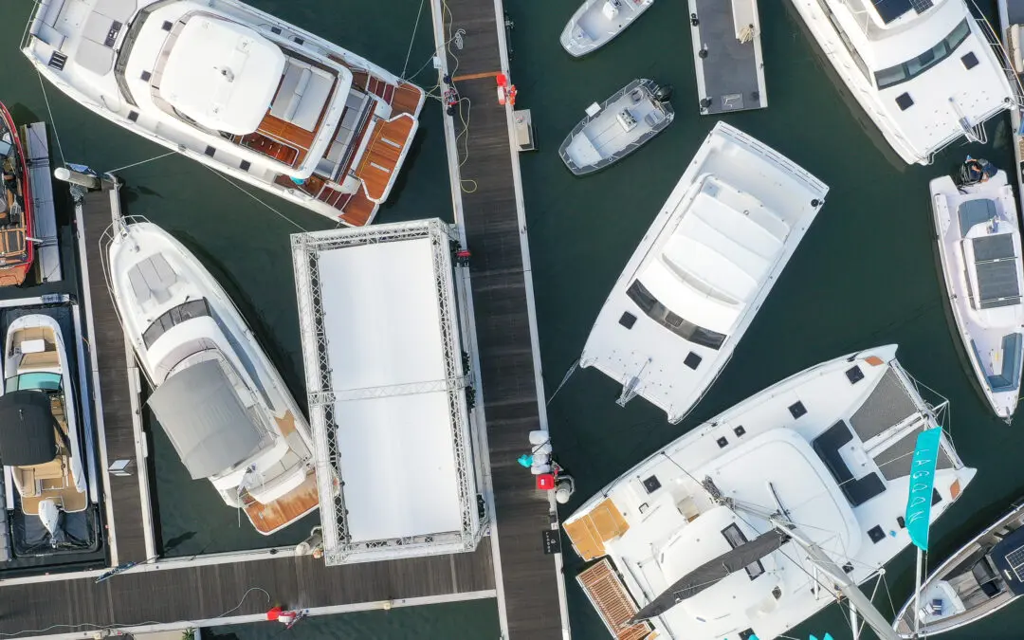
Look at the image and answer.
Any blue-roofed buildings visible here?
No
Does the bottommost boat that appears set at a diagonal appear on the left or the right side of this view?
right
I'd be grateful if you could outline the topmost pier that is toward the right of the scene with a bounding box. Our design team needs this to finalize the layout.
[685,0,768,118]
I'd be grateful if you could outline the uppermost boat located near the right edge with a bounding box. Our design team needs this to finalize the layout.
[787,0,1024,167]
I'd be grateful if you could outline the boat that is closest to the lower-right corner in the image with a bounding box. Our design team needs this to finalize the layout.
[887,501,1024,639]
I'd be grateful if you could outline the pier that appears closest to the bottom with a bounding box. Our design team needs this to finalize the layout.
[0,535,500,640]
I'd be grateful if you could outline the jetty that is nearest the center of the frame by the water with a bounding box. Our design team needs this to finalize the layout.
[431,0,571,640]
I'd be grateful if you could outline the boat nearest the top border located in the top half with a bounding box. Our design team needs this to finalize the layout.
[559,0,658,60]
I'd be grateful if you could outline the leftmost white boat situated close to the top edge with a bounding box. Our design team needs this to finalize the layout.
[17,0,427,227]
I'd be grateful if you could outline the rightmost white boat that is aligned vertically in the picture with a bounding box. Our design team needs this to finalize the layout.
[922,163,1024,423]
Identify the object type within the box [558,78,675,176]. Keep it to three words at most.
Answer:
boat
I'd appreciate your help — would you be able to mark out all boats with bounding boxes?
[545,121,829,424]
[558,78,675,176]
[922,163,1024,423]
[787,0,1024,167]
[559,0,658,60]
[99,215,321,534]
[17,0,427,227]
[0,97,44,288]
[562,343,982,640]
[887,501,1024,639]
